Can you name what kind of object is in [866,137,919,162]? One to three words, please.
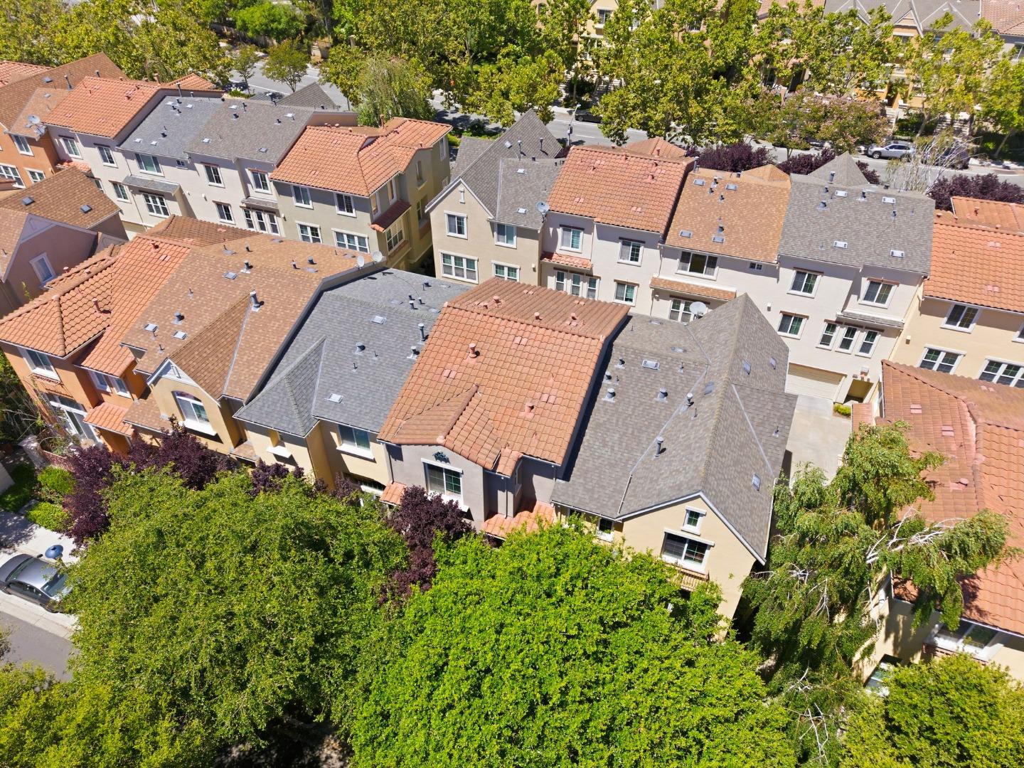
car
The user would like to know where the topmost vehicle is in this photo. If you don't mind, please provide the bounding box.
[575,105,606,122]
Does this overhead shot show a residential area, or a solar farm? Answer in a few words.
residential area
